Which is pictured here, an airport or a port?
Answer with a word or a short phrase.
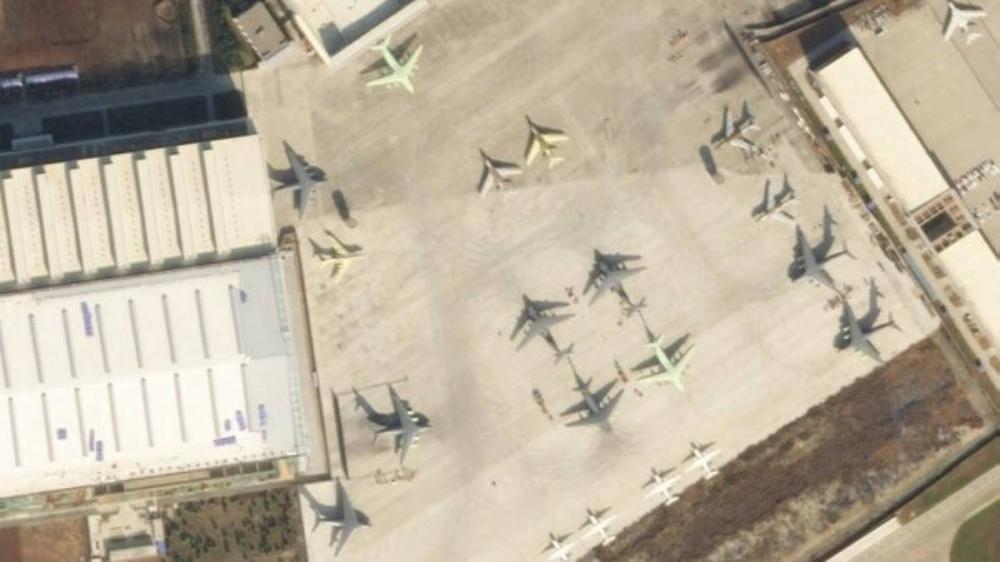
airport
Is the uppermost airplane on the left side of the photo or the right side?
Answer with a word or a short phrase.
right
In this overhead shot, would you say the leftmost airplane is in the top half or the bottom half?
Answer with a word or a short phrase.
top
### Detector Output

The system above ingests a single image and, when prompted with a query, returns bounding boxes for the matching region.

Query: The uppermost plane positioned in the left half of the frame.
[366,32,422,93]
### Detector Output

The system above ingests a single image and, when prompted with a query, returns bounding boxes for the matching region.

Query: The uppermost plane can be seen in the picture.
[945,0,986,43]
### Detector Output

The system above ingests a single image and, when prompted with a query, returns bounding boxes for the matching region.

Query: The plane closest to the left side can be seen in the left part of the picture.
[265,151,324,220]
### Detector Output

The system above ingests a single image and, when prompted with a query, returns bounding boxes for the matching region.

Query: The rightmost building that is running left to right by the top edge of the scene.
[280,0,441,67]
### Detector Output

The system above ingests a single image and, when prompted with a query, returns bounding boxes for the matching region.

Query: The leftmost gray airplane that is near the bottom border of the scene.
[312,487,372,556]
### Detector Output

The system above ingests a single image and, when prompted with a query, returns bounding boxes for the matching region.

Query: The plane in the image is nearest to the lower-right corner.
[831,302,896,365]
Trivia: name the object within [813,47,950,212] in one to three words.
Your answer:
hangar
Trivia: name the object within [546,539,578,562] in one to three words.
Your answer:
airplane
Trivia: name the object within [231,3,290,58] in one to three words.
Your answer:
building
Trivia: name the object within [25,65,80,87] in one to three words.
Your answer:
shed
